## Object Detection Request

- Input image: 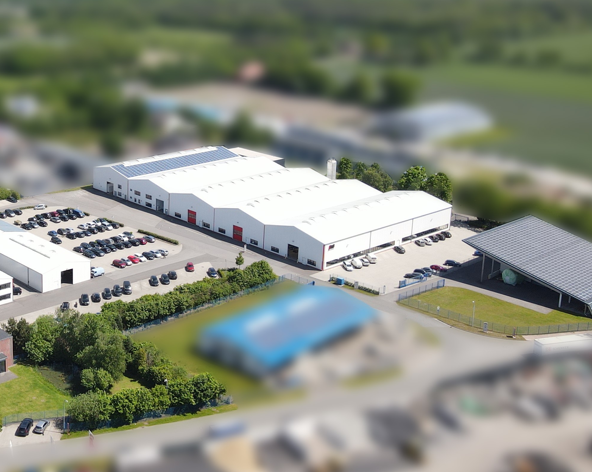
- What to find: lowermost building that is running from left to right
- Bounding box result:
[194,294,385,392]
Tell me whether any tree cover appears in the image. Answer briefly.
Yes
